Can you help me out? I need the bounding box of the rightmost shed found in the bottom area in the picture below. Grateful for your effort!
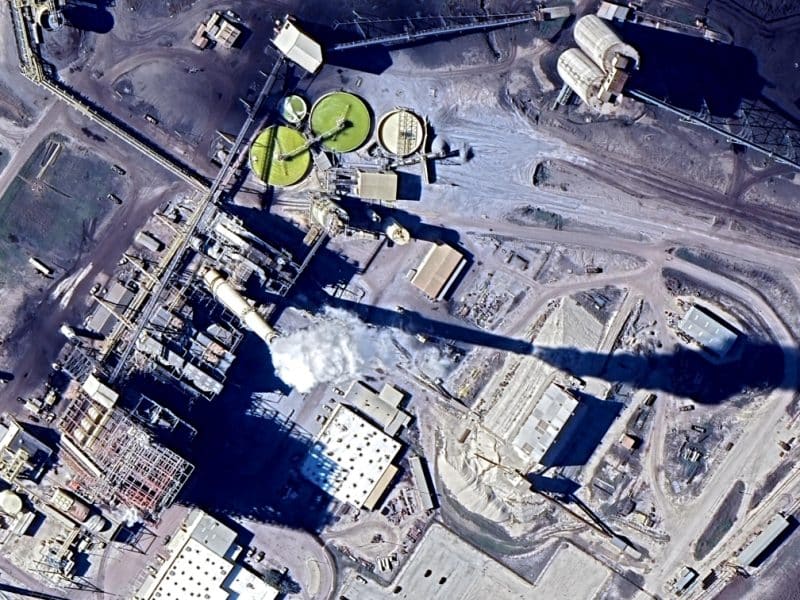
[737,510,790,566]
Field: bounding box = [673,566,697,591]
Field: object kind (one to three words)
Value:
shed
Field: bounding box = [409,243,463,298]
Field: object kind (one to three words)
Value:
building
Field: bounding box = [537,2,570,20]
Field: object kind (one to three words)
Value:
house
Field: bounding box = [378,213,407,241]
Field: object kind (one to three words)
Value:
silo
